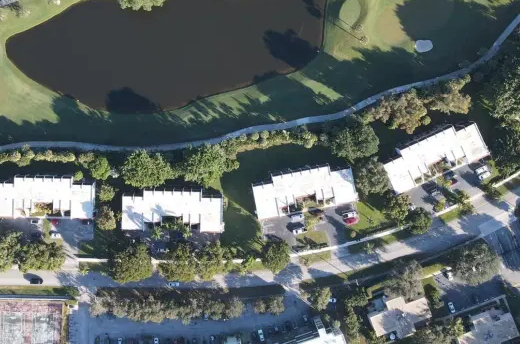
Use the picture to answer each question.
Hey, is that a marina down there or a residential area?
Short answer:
residential area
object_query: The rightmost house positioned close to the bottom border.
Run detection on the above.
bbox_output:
[458,308,520,344]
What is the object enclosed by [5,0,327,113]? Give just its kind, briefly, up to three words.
pond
